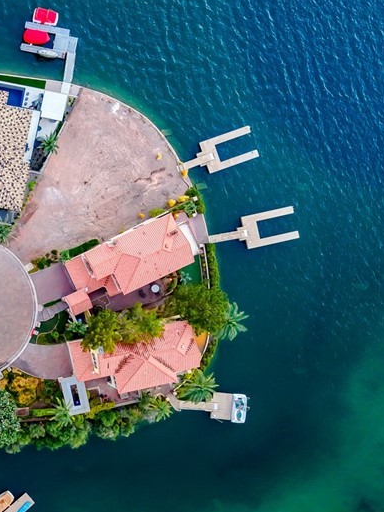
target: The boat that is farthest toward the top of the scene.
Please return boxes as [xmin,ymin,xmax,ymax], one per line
[31,3,59,26]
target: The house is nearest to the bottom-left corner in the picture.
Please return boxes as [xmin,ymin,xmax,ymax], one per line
[65,321,202,393]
